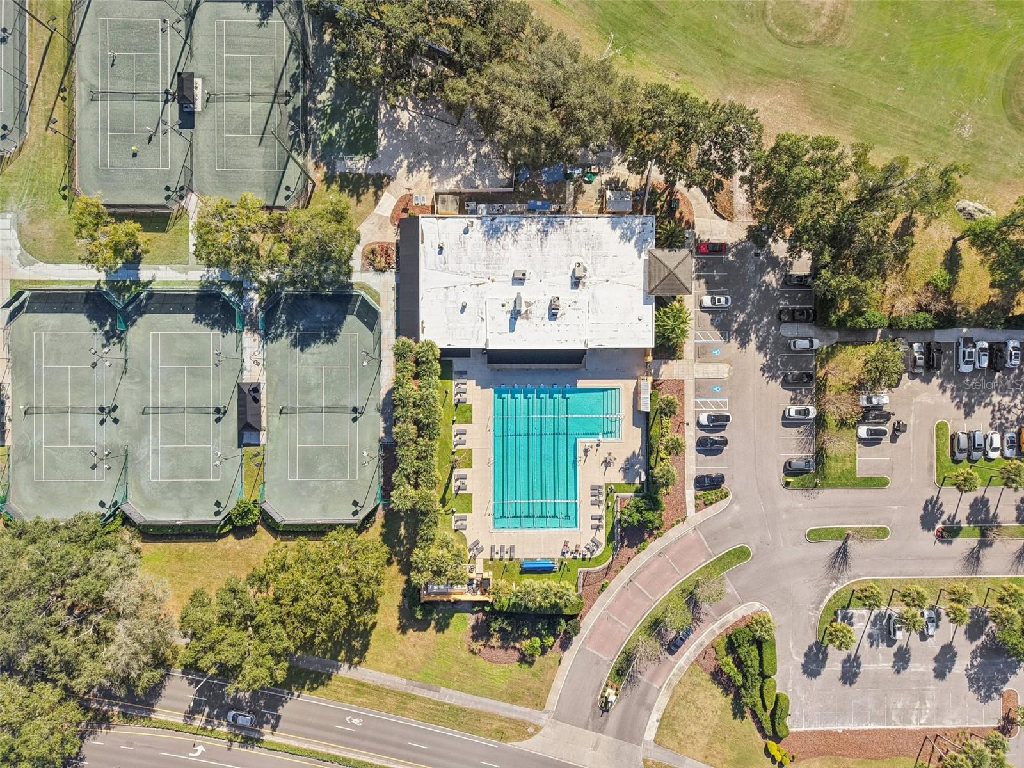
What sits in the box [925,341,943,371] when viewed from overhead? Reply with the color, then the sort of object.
black car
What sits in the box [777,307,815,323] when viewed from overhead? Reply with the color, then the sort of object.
black vehicle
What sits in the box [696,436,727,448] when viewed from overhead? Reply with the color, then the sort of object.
black vehicle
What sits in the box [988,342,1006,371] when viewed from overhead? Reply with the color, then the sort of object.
black car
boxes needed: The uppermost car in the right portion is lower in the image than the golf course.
[696,240,726,255]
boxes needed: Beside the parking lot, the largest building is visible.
[398,214,656,369]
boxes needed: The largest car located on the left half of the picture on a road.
[227,707,257,727]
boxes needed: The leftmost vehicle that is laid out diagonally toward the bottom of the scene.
[664,623,693,658]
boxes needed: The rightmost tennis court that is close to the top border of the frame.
[191,0,311,207]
